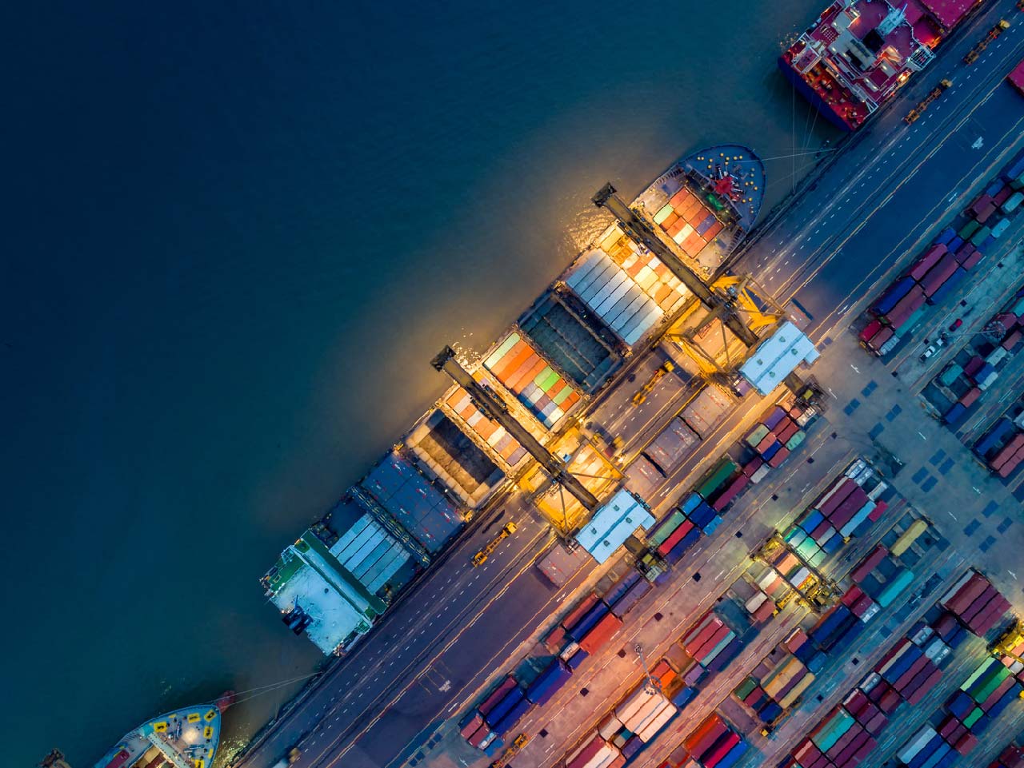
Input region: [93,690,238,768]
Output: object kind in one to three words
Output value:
ship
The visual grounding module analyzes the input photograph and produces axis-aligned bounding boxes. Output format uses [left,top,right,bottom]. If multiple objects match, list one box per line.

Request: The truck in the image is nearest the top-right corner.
[966,18,1011,62]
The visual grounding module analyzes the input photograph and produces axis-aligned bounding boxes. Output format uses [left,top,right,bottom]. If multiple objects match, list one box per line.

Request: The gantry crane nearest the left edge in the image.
[428,343,671,582]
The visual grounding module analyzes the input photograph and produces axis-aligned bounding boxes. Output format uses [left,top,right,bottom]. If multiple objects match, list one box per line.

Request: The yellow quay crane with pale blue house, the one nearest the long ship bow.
[590,178,832,418]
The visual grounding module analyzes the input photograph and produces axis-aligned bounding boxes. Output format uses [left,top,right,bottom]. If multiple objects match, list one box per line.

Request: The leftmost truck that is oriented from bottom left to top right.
[281,744,302,766]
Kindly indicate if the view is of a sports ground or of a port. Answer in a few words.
port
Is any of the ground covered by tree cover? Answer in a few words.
No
